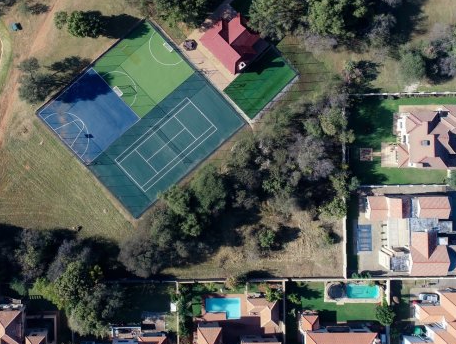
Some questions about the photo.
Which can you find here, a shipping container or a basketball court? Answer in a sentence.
Visible in the photo is a basketball court.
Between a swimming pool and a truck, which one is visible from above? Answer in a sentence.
It is a swimming pool that can be seen here.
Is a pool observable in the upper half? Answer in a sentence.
No, no pool can be made out in the upper half.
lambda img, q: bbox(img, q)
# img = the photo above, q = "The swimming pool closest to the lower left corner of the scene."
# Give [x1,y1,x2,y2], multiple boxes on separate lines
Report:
[204,297,241,319]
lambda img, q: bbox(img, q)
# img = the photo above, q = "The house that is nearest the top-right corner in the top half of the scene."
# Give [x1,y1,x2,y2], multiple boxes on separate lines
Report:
[392,105,456,169]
